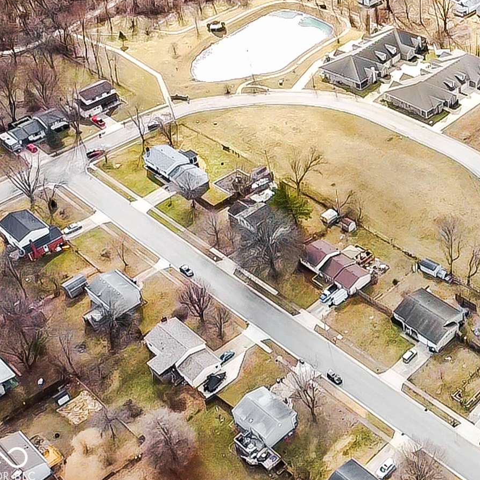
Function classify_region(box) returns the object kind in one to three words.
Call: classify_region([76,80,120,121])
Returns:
house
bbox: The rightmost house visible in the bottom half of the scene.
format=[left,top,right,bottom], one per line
[392,290,467,351]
